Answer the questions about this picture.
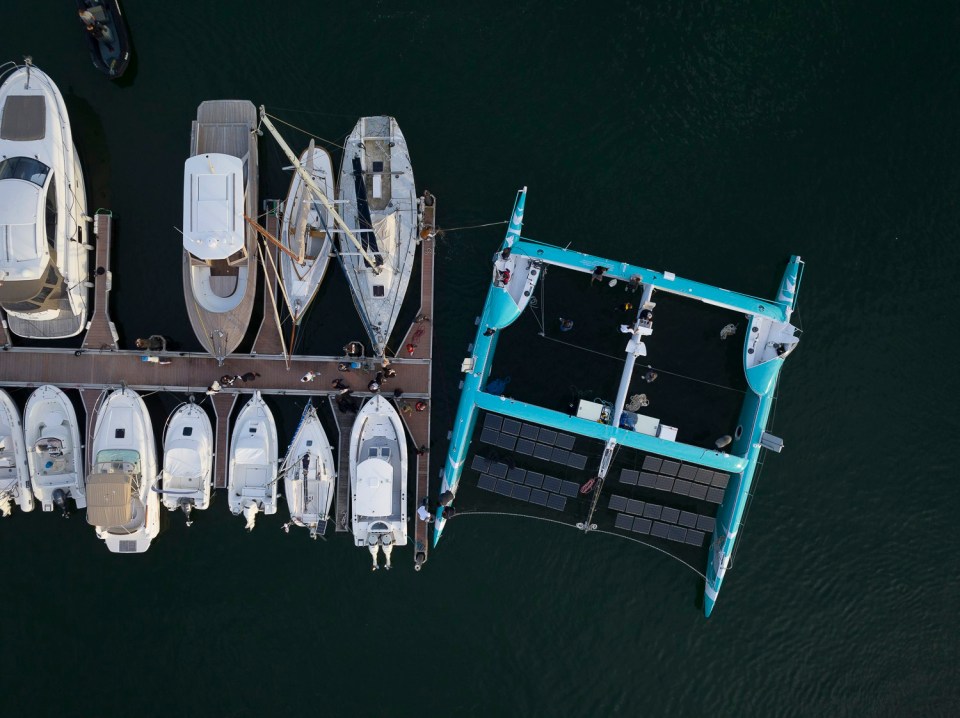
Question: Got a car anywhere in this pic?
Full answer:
No, the picture doesn't show any car.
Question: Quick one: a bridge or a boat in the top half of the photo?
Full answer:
What appears in the top half of the photo is a boat.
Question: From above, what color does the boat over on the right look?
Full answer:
The boat over on the right is blue.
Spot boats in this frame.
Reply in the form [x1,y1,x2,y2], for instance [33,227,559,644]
[84,381,163,553]
[24,385,87,523]
[173,100,262,366]
[255,98,419,355]
[351,393,409,573]
[0,54,92,338]
[434,186,804,617]
[76,0,129,80]
[230,388,279,531]
[0,385,36,537]
[149,396,217,528]
[243,139,337,370]
[262,400,336,543]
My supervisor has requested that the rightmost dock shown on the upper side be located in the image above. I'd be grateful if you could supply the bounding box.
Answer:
[396,197,436,358]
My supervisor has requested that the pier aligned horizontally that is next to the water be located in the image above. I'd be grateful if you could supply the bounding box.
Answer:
[0,346,432,398]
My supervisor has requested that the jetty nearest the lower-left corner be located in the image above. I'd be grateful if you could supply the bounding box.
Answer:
[79,389,110,478]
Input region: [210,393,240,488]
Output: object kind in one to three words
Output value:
pier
